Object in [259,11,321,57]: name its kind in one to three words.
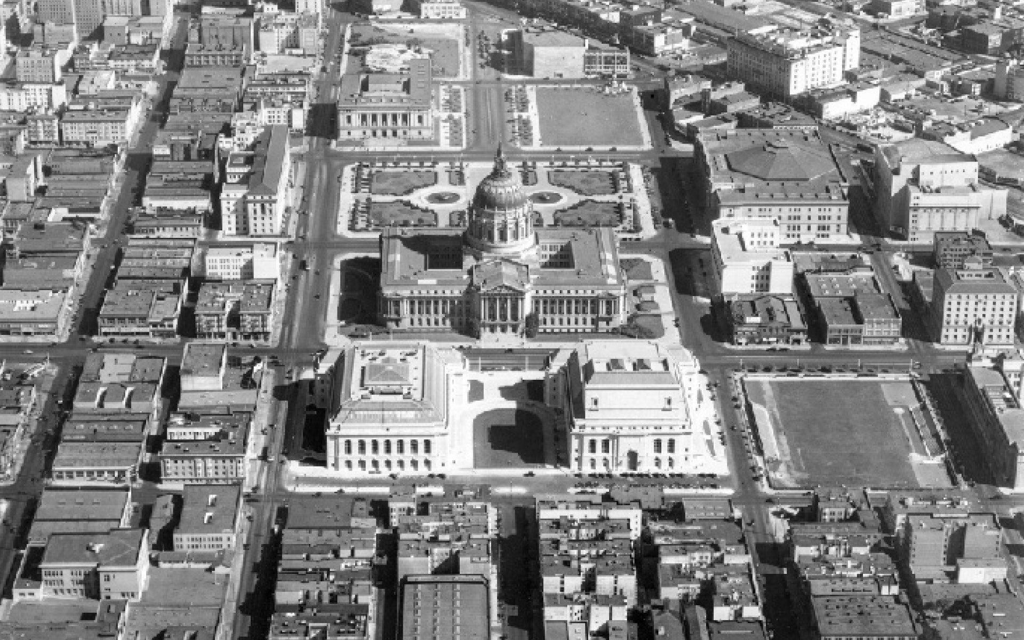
building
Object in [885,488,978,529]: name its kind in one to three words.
building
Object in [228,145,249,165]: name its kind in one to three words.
house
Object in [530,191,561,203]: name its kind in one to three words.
fountain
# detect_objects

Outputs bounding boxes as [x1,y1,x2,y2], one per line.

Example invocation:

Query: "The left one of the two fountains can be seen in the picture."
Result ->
[427,190,460,202]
